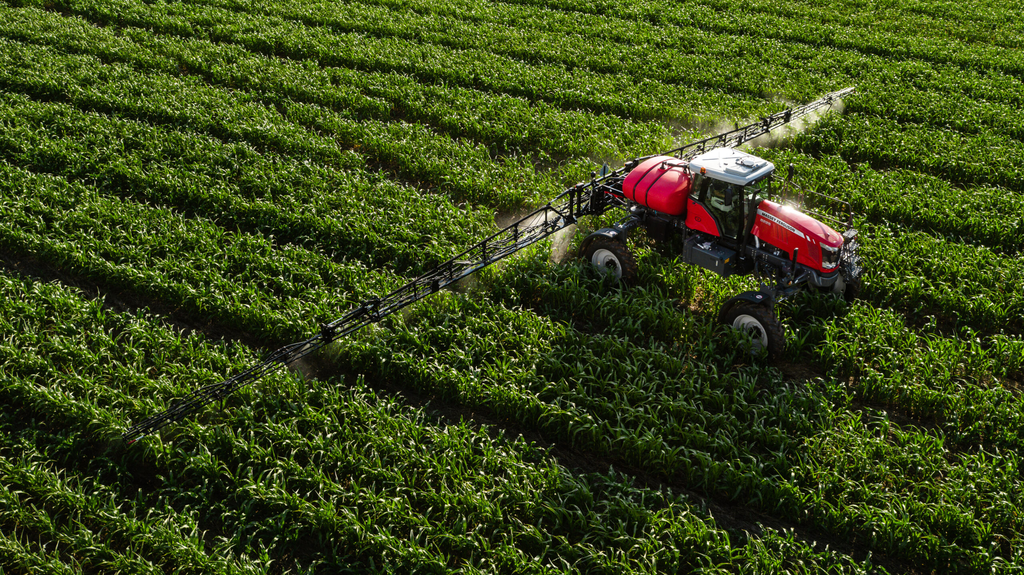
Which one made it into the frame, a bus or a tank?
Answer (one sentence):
It is a tank that can be seen here.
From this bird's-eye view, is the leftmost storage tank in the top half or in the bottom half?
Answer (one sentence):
Seen from above, the leftmost storage tank lies in the top half of the view.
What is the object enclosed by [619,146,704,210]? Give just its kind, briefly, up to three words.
storage tank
